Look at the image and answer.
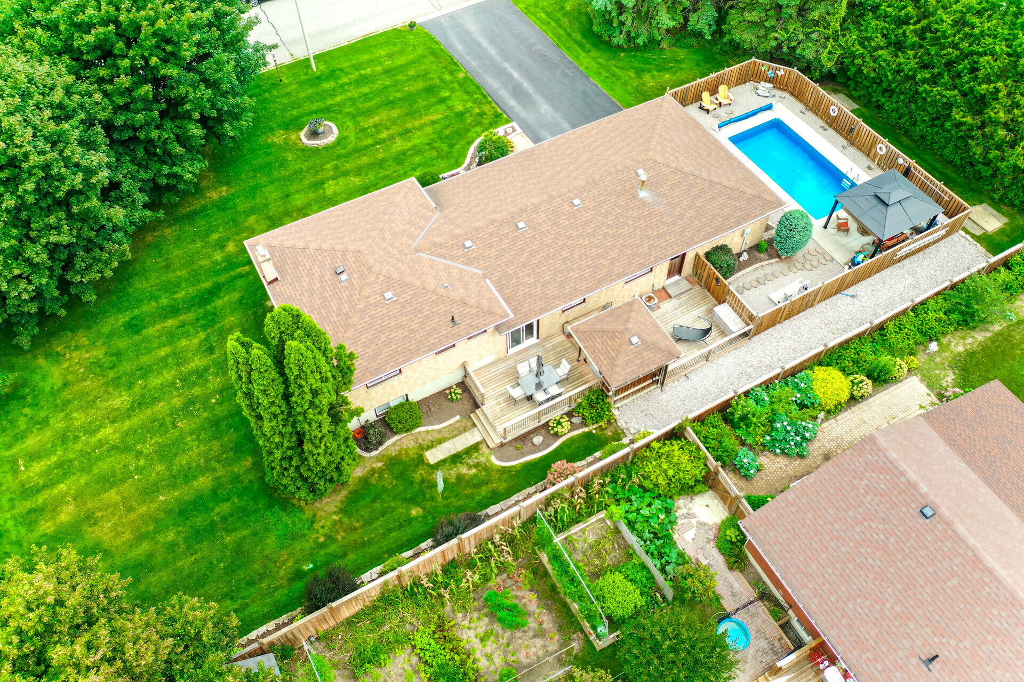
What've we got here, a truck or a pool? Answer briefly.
pool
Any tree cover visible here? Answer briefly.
Yes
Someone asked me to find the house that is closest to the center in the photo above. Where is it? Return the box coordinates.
[242,95,786,421]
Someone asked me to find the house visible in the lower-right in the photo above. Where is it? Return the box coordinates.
[736,385,1024,682]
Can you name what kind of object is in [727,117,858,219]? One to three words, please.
swimming pool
